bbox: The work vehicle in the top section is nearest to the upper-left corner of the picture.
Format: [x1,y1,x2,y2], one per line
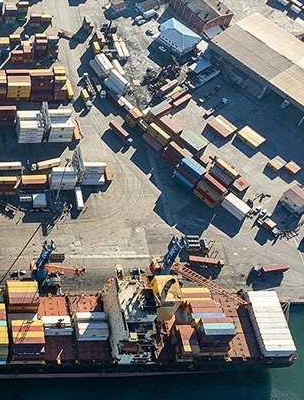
[48,15,74,39]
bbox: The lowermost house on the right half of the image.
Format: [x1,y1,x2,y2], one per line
[278,184,304,219]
